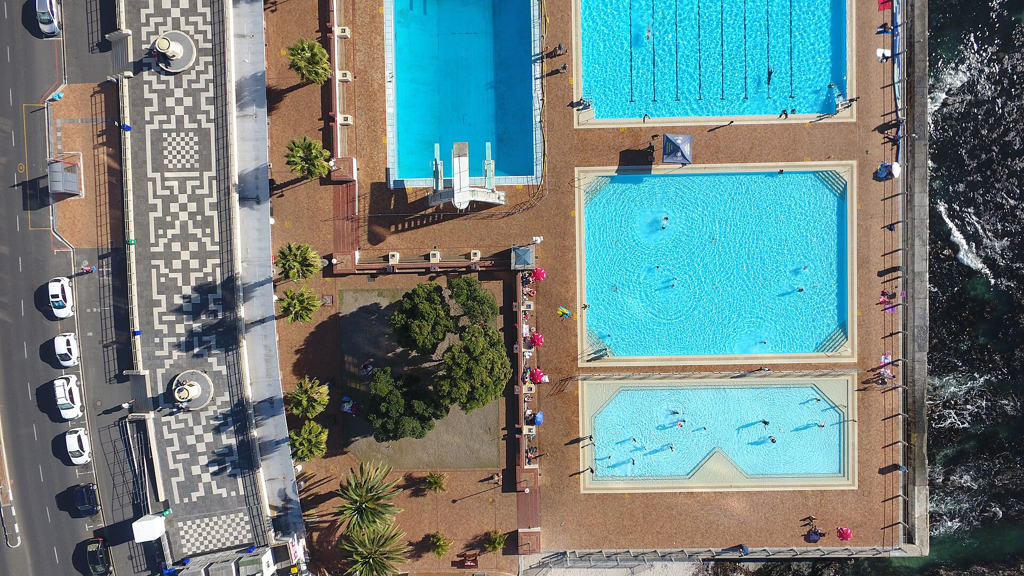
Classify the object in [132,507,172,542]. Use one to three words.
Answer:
building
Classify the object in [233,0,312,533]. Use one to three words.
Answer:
building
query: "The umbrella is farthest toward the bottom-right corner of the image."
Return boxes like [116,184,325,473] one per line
[836,526,852,541]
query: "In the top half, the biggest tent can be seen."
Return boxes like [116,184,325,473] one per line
[658,132,694,171]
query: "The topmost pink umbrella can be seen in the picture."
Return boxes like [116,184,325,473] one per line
[532,267,546,282]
